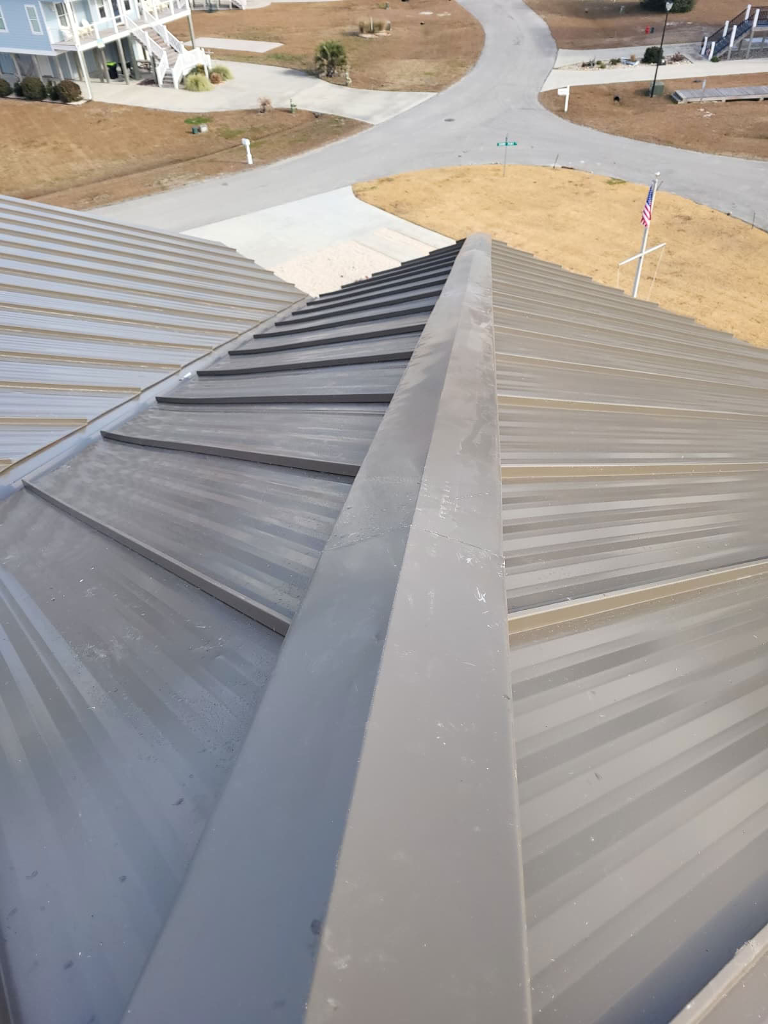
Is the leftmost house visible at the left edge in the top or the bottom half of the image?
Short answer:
top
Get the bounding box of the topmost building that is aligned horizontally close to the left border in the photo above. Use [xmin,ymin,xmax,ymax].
[0,0,215,101]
